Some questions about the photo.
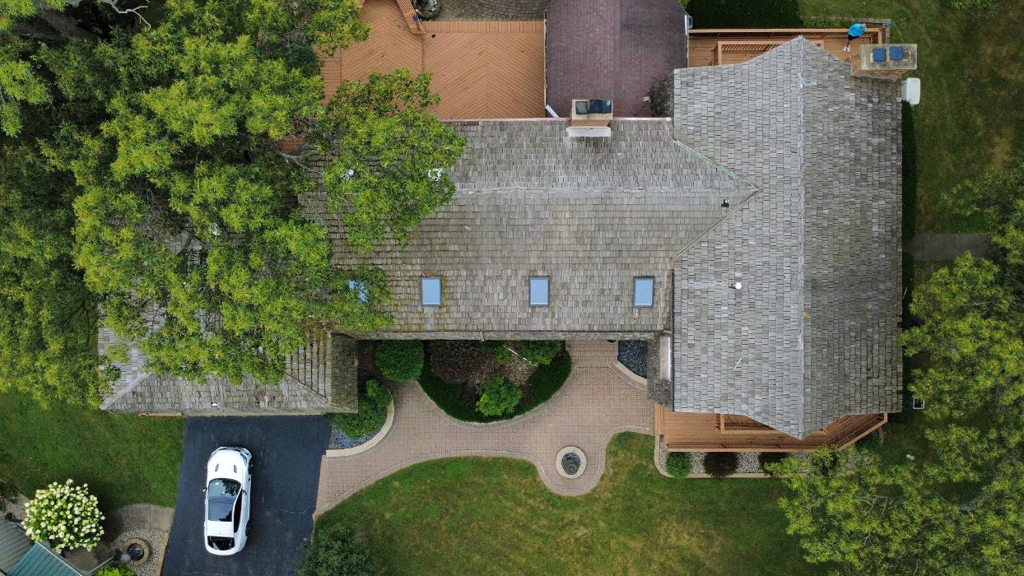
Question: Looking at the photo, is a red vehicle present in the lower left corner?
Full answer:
No, looking in the lower left corner, there is no red vehicle.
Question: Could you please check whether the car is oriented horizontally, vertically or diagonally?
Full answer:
In this picture, the car is oriented vertically.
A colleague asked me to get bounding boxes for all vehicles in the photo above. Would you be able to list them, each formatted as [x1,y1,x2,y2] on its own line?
[199,441,255,558]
